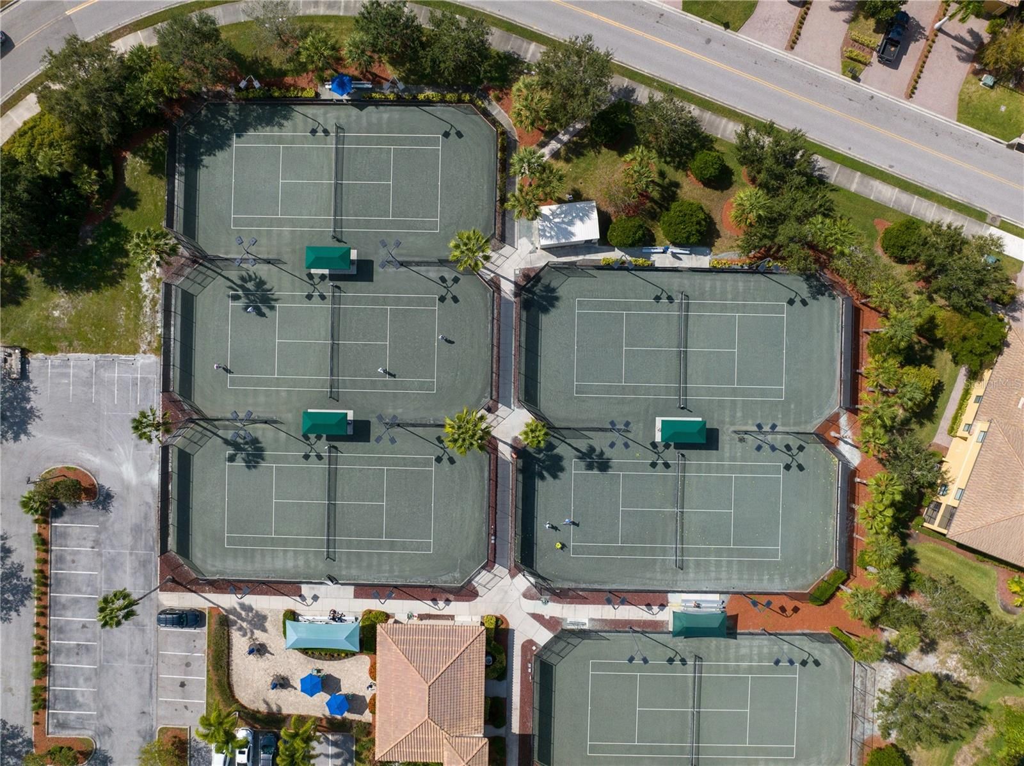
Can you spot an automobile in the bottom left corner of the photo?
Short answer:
Yes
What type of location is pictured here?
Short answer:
sports ground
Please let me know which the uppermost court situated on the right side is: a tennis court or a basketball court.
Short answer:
tennis court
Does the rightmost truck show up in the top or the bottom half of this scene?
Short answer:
top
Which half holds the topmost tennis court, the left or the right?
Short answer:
left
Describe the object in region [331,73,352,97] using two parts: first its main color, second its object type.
blue umbrella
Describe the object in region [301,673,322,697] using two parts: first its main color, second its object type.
blue umbrella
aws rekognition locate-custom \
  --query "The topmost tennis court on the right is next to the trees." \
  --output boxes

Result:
[520,264,839,433]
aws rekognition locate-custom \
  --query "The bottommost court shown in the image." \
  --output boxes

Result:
[534,631,853,766]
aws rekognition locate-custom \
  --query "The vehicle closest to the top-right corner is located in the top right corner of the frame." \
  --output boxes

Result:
[875,10,913,67]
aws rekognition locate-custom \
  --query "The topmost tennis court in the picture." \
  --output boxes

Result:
[175,103,494,261]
